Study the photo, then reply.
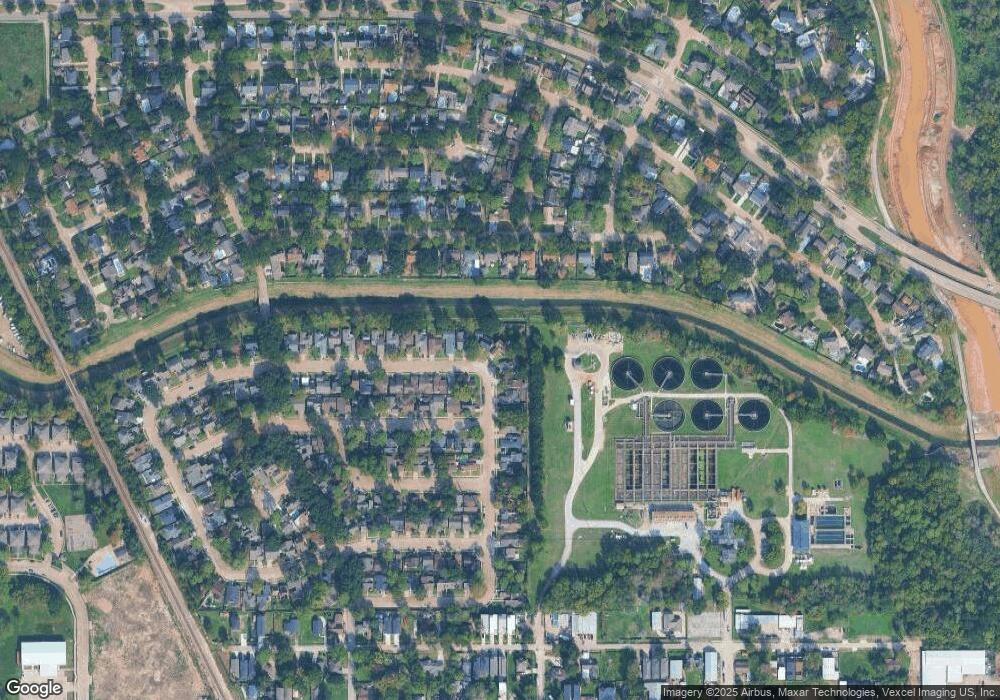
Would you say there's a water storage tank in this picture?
Yes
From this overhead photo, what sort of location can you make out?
residential area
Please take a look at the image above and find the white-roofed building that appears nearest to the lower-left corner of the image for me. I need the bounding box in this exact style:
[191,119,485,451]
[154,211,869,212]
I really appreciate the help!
[20,642,66,677]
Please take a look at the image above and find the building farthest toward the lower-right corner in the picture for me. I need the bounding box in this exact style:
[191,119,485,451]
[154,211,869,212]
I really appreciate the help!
[922,650,986,700]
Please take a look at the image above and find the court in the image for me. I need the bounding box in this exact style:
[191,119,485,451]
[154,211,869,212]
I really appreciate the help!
[65,514,97,552]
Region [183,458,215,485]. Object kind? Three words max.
house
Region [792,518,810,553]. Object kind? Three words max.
building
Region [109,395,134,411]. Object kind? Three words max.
house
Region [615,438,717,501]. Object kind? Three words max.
water tank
